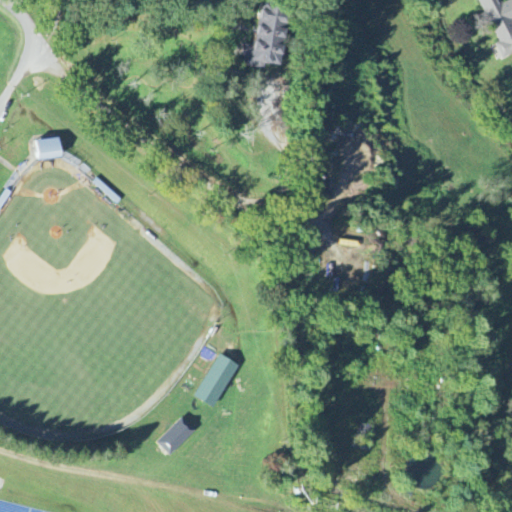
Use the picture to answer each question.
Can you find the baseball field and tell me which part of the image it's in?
left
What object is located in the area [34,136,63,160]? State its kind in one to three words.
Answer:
building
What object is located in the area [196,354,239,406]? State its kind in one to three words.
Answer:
shed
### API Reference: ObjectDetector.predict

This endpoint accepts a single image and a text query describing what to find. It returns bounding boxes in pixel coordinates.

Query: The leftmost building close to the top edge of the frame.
[247,4,288,68]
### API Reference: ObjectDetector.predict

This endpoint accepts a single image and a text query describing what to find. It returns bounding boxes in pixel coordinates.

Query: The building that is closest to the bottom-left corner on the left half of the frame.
[155,418,194,456]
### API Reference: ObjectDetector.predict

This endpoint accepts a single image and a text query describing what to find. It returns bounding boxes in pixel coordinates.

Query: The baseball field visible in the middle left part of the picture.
[0,160,220,440]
